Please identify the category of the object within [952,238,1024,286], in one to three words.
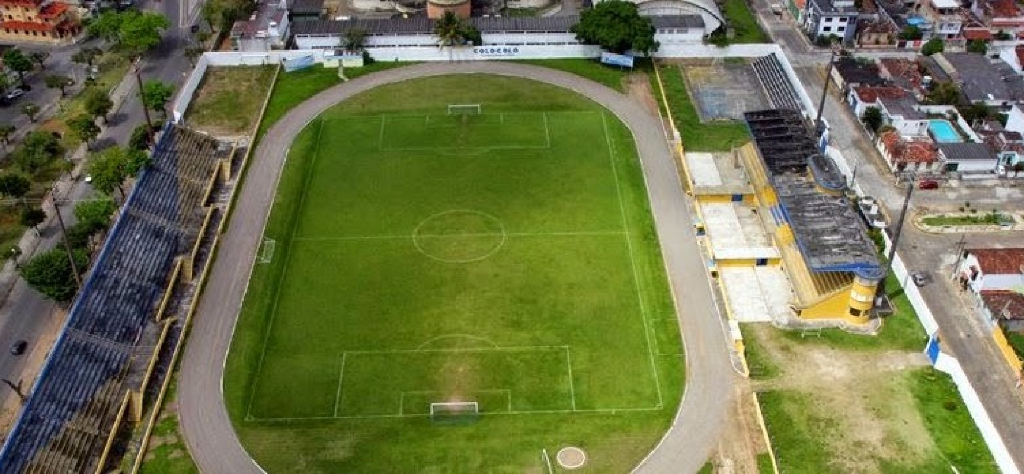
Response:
house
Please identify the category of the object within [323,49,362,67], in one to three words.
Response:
shed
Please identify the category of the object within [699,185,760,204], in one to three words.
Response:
building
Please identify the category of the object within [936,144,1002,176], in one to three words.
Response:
house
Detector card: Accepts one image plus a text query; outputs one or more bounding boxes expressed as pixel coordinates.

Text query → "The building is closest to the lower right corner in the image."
[985,289,1024,329]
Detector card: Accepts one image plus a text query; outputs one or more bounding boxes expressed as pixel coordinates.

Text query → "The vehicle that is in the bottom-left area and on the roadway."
[8,339,28,357]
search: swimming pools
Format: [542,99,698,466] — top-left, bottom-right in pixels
[931,117,970,143]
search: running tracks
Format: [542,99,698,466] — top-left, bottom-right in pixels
[182,62,736,474]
